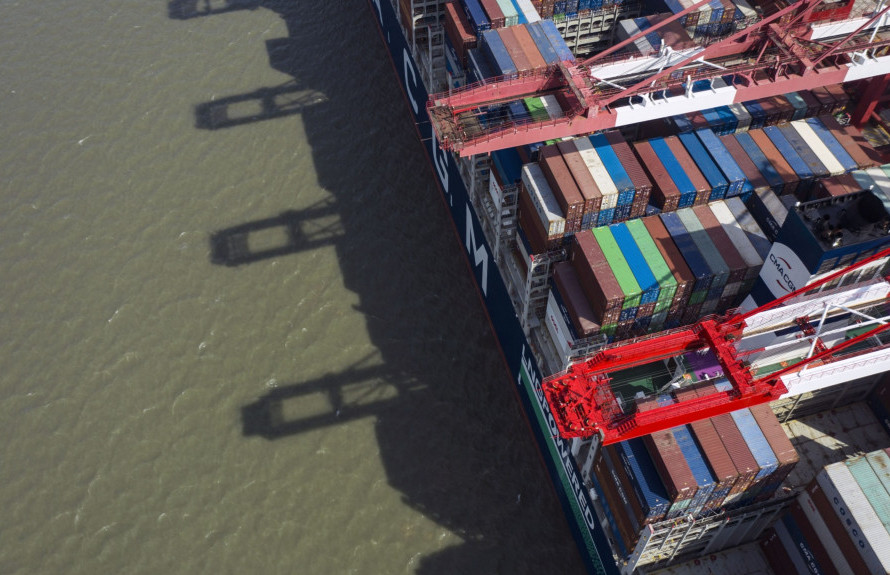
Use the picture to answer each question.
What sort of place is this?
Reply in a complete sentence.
This looks like a port.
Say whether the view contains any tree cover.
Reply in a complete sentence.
No, the scene doesn't show any tree cover.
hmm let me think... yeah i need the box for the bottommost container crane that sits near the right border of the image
[541,254,890,452]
